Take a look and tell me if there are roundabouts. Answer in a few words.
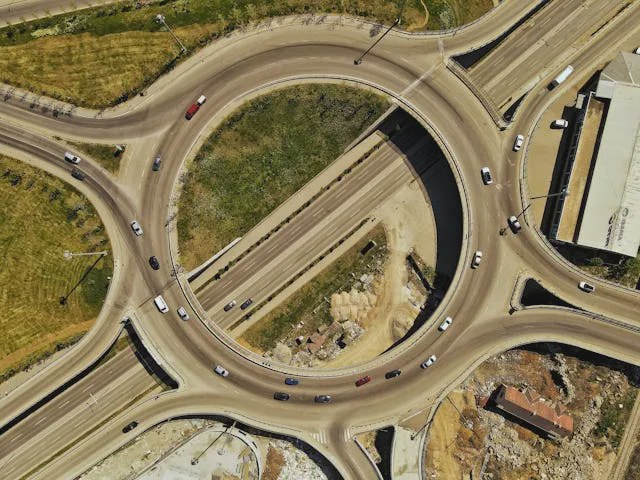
Yes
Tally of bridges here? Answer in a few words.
2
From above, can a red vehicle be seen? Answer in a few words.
Yes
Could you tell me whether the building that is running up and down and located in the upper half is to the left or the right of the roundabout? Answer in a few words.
on its right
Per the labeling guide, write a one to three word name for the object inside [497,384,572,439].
house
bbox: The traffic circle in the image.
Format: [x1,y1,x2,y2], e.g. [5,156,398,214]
[1,24,521,442]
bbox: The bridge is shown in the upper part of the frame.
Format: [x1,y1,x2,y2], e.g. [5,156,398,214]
[395,54,506,181]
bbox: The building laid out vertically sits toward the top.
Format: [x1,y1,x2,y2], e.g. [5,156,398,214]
[544,51,640,262]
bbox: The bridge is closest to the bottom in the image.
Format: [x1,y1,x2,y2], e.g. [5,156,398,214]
[128,278,238,388]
